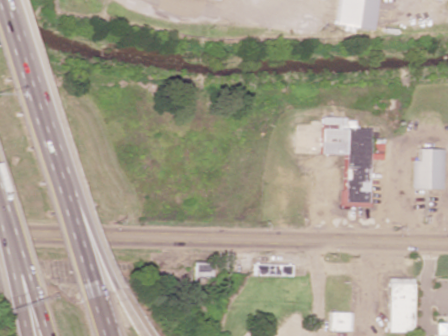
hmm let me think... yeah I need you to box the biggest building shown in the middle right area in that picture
[321,118,386,206]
